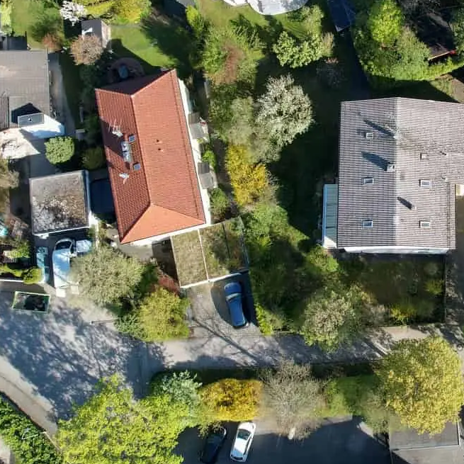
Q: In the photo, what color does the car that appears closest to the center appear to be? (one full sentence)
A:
The color of the car that appears closest to the center is blue.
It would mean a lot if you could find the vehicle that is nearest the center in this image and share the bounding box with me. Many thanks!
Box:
[223,281,248,330]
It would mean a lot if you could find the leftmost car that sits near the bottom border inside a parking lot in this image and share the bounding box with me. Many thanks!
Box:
[198,421,229,464]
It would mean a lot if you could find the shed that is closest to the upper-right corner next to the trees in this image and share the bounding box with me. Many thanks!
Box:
[416,14,455,63]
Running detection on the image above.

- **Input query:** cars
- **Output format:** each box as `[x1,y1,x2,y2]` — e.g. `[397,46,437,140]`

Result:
[50,238,73,285]
[227,417,256,464]
[198,421,229,464]
[223,281,248,330]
